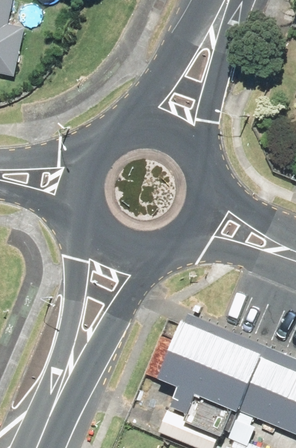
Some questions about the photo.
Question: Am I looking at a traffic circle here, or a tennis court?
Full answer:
I can see a traffic circle in this picture.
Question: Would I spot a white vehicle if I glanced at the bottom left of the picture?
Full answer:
No, there's no white vehicle to be seen at the bottom left of the picture.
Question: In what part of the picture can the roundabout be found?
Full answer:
Look in the center portion of the view to spot the roundabout.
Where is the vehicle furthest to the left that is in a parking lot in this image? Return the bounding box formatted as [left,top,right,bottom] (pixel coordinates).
[225,292,248,324]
